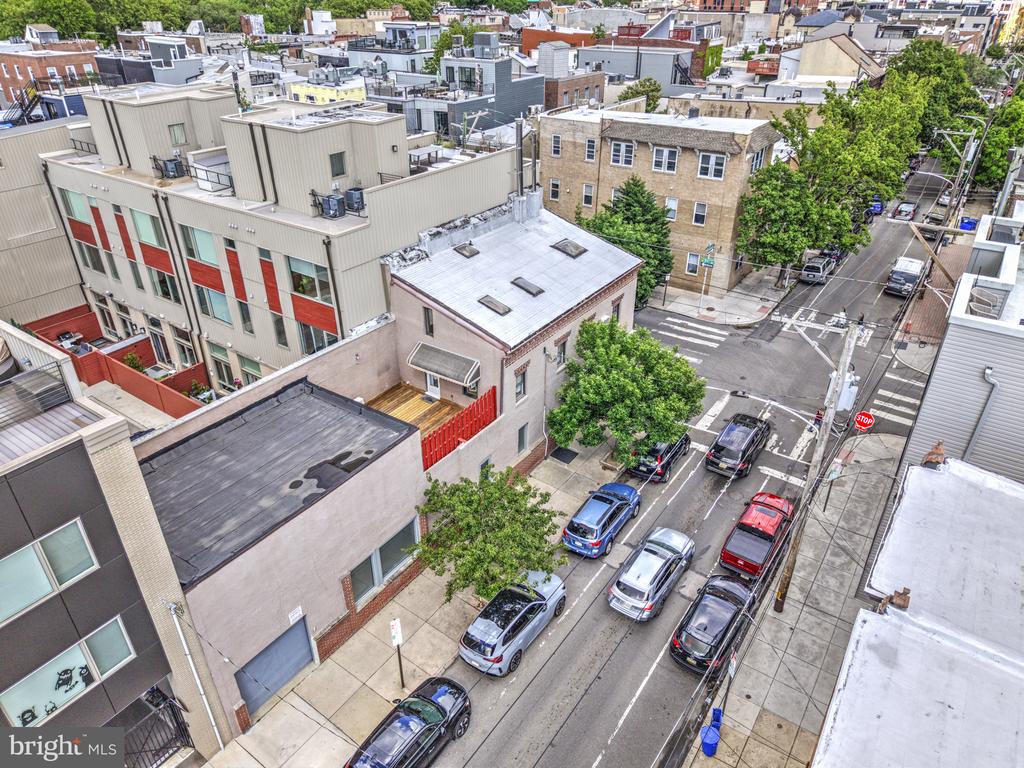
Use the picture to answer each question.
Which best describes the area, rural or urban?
urban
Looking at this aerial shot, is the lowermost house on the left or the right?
right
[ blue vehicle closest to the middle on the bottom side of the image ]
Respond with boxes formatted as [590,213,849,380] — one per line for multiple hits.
[560,480,642,558]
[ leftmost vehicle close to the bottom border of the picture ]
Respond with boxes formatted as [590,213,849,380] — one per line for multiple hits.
[335,678,468,768]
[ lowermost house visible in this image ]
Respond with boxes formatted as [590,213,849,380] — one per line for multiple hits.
[800,604,1024,768]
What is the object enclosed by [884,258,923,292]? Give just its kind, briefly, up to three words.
car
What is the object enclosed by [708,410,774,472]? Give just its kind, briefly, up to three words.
car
